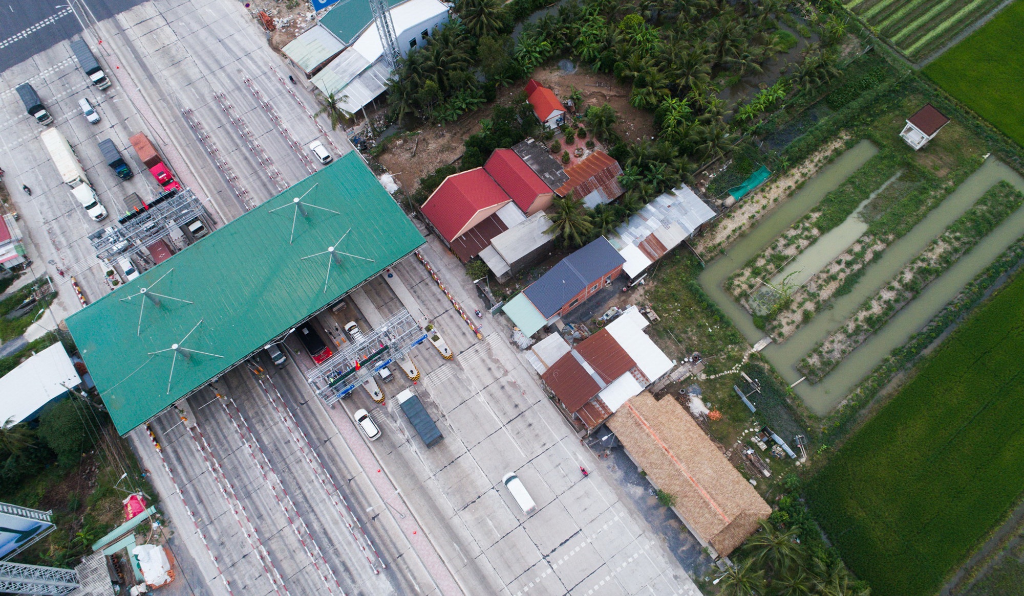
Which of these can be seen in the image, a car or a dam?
car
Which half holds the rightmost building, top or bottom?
top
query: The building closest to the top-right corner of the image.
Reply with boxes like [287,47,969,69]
[895,103,951,153]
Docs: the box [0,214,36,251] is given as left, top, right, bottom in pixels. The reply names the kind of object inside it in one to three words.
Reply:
building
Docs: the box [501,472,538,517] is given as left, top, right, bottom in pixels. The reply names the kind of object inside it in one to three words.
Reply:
vehicle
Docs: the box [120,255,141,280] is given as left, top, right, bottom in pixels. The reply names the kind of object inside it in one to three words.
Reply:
car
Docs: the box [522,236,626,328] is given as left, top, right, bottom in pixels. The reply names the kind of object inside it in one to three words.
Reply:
house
